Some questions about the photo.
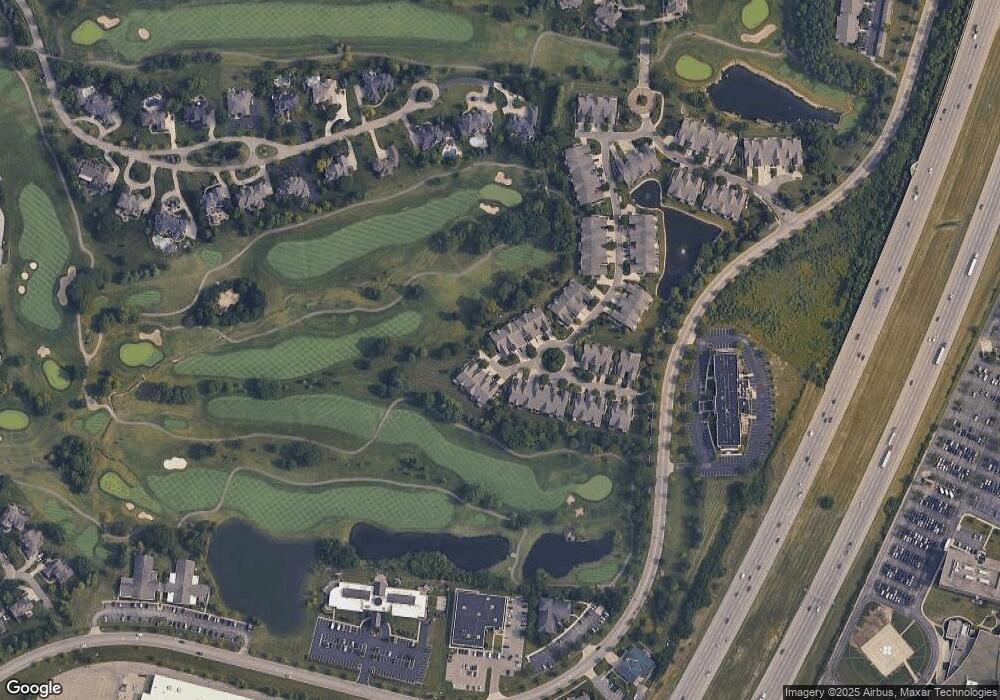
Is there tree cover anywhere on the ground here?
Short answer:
Yes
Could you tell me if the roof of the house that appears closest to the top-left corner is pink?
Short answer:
No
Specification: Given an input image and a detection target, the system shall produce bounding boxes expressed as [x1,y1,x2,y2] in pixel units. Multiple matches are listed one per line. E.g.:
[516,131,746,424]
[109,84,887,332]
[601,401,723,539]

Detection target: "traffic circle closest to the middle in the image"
[531,338,575,382]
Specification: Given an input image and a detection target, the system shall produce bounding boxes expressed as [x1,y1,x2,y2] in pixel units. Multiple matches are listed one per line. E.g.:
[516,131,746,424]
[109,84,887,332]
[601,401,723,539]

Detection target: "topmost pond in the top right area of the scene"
[707,64,843,126]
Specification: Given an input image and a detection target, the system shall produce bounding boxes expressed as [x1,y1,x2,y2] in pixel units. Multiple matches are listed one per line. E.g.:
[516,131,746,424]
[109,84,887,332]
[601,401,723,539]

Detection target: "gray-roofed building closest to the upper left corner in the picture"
[77,87,115,125]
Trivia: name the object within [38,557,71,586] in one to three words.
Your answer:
house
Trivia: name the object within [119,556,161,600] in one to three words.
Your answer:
building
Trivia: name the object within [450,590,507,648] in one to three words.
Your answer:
building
